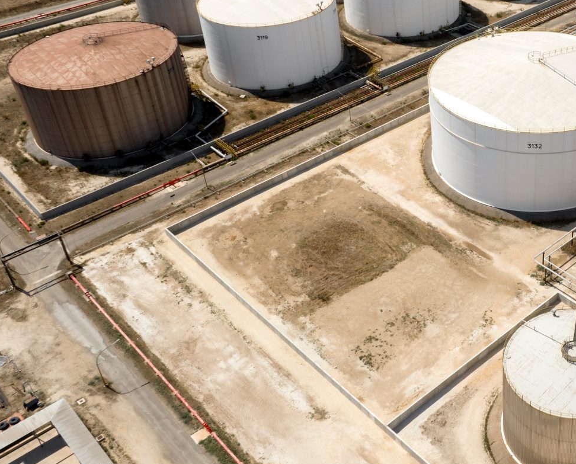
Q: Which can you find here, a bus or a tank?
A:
tank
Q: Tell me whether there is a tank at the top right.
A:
Yes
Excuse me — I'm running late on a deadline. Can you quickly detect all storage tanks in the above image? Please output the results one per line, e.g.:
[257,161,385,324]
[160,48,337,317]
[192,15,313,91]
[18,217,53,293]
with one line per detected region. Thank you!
[196,0,354,95]
[7,18,208,168]
[423,26,576,218]
[132,0,203,39]
[338,0,469,41]
[485,302,576,464]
